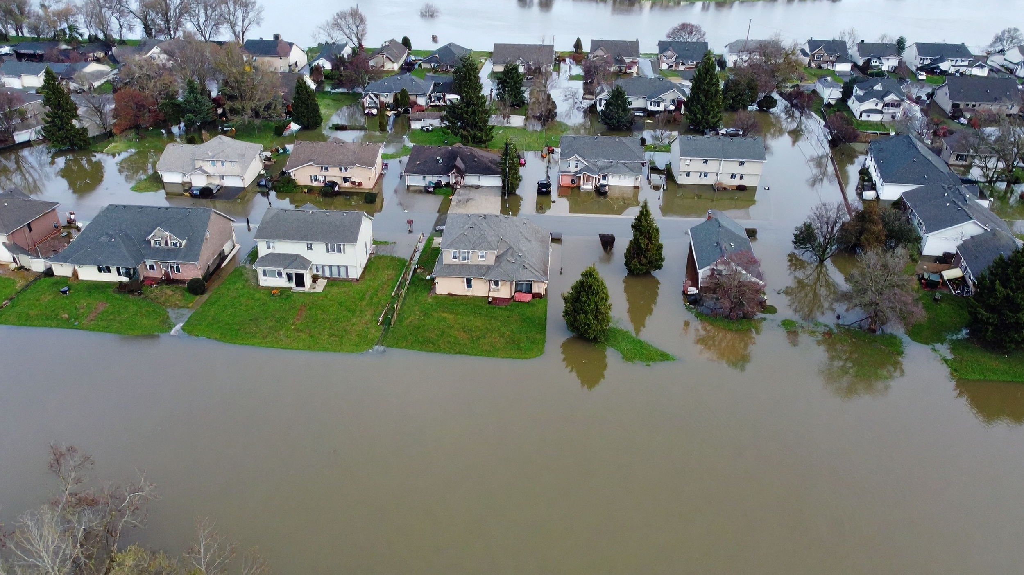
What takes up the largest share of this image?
water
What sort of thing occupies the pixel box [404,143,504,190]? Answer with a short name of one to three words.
house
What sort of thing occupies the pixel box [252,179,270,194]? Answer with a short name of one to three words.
car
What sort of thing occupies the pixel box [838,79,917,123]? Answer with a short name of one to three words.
house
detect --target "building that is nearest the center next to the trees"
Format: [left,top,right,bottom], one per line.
[429,217,552,308]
